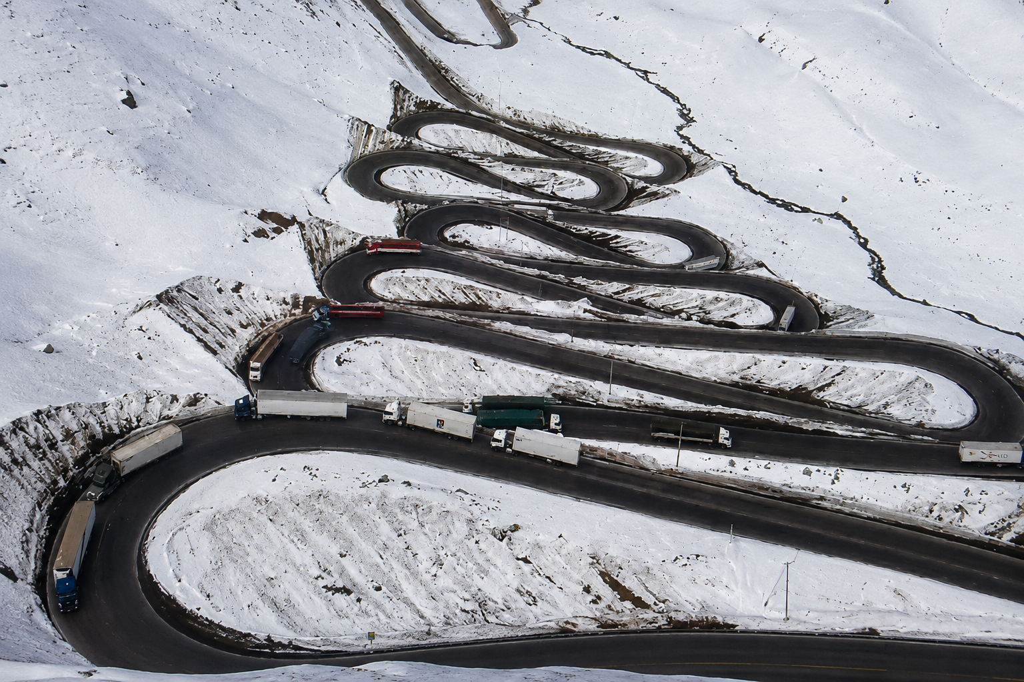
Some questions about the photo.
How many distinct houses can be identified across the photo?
0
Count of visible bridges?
none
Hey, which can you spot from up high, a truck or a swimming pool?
truck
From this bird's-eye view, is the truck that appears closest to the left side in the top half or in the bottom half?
bottom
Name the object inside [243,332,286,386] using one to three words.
truck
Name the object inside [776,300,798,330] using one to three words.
truck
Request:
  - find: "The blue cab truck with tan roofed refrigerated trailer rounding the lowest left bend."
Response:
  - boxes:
[53,499,99,606]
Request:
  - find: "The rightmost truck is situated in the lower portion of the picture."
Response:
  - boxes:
[959,438,1024,469]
